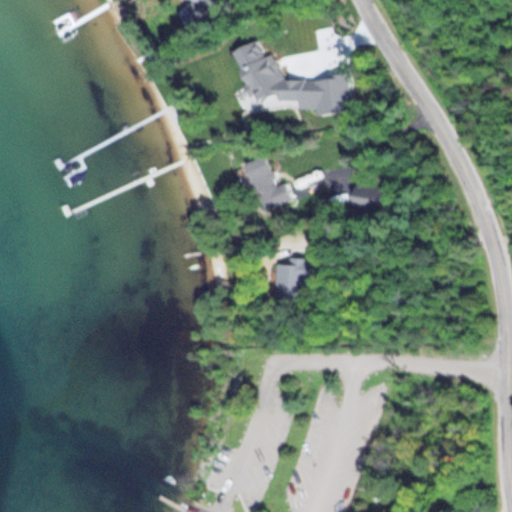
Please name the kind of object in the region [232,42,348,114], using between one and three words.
house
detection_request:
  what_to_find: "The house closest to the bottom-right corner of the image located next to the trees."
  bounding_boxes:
[276,258,306,291]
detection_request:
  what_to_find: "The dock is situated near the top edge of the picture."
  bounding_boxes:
[53,2,112,39]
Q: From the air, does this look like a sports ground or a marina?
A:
marina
